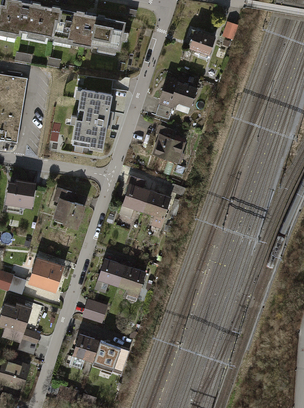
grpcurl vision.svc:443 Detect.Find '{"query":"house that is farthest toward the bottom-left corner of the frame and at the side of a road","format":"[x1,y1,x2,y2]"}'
[0,359,30,390]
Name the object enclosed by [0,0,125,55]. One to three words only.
building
